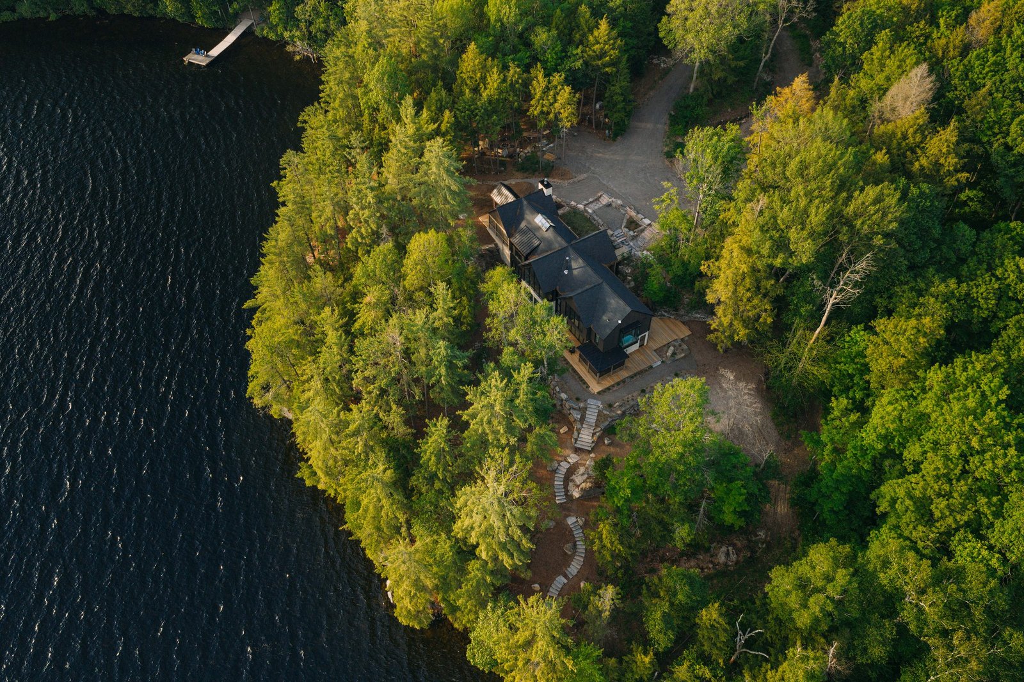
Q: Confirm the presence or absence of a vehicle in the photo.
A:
No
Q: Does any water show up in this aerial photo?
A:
Yes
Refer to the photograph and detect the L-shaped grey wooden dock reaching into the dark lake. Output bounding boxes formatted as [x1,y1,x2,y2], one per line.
[184,19,253,67]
